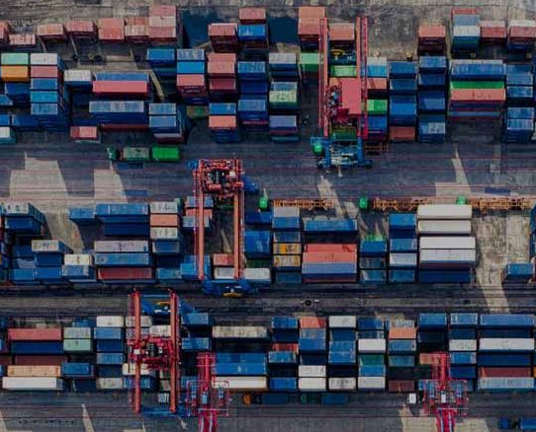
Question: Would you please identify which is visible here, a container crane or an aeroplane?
container crane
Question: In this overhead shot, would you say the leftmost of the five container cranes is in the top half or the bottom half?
bottom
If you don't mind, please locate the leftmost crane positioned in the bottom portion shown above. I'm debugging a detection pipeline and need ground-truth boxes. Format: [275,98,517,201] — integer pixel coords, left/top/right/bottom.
[128,291,197,423]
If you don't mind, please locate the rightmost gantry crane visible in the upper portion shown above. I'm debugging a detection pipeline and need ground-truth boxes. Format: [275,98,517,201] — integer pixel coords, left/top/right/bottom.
[310,18,374,169]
